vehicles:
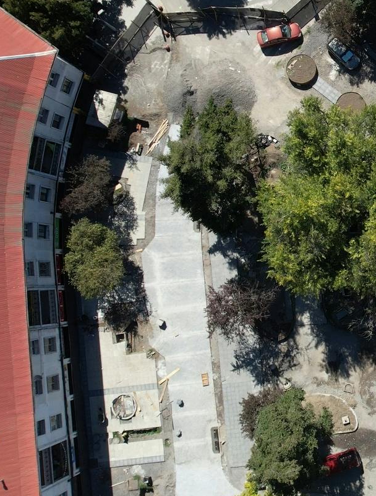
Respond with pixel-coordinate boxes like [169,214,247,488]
[314,448,368,480]
[255,21,302,46]
[324,34,362,68]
